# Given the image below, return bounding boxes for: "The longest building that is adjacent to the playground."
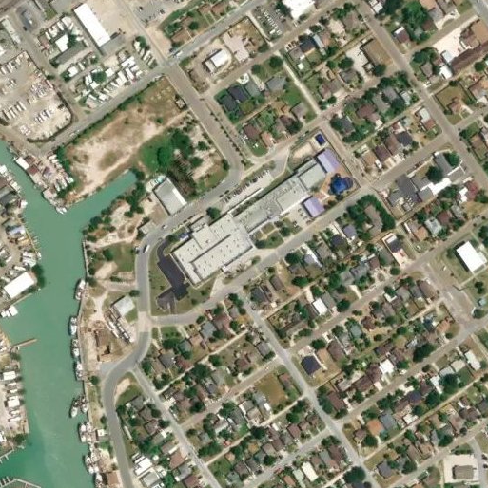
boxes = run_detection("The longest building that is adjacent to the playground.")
[173,160,326,284]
